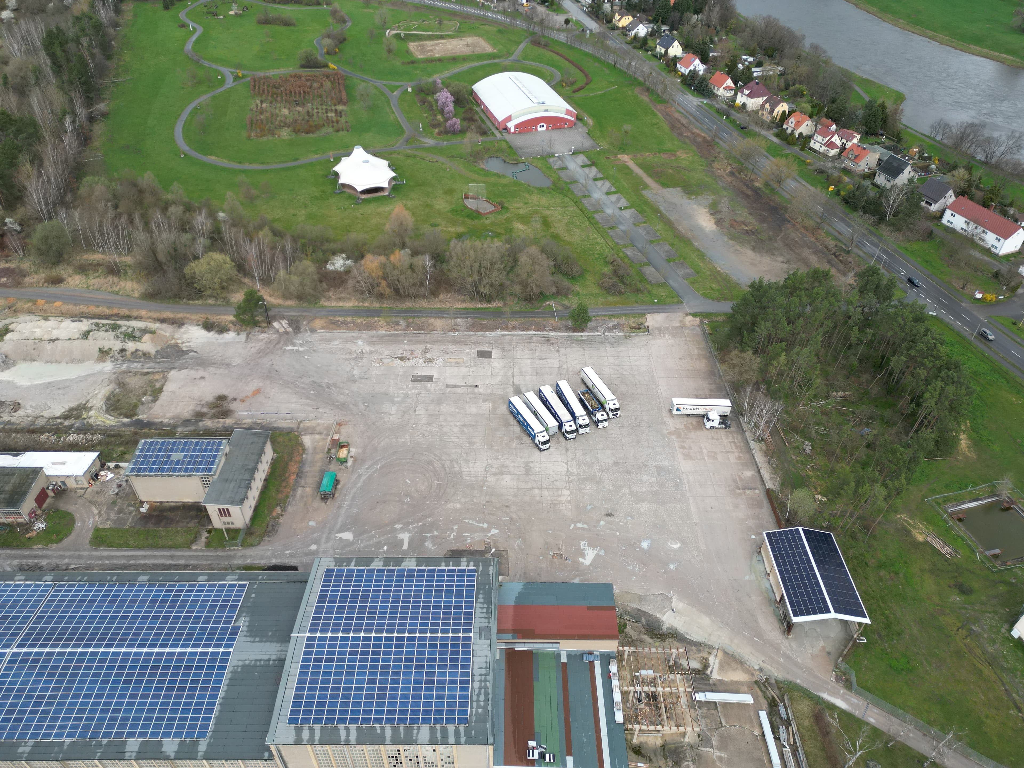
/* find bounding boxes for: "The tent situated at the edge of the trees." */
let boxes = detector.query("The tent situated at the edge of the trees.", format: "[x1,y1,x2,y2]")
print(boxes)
[328,146,403,203]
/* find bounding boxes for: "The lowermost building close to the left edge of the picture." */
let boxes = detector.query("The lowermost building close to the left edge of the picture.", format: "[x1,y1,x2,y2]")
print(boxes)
[0,573,313,768]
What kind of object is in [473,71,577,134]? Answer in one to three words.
building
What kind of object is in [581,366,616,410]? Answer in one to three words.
trailer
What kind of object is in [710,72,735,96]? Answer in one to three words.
house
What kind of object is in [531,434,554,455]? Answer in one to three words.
truck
